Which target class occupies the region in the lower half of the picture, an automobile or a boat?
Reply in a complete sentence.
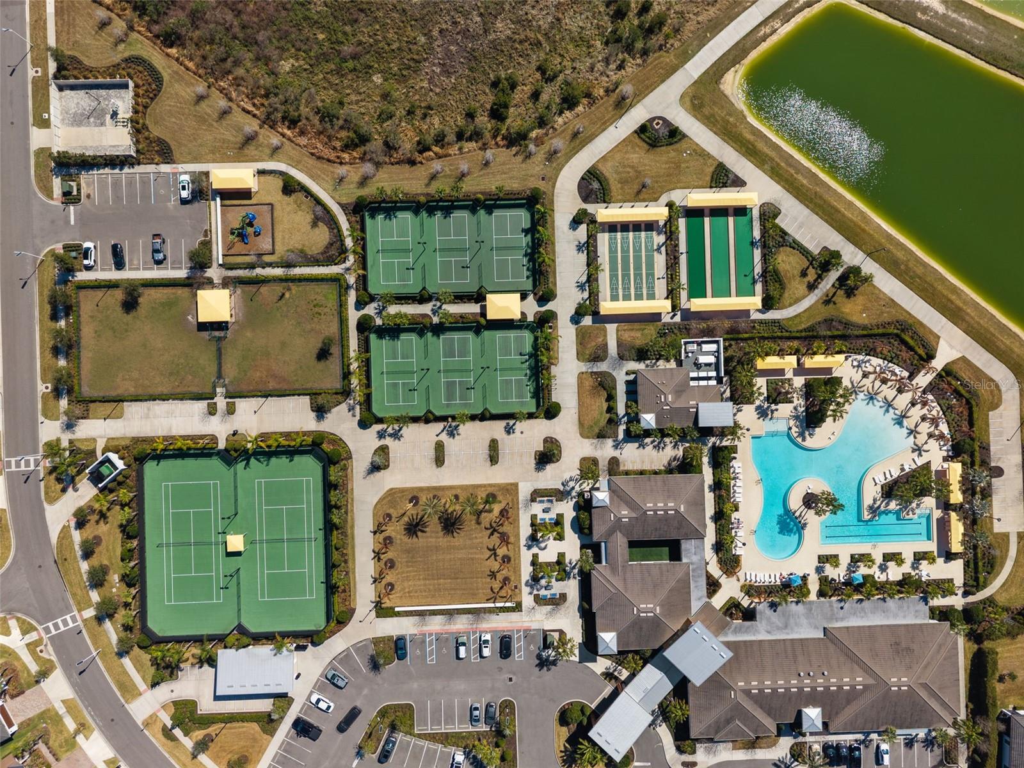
It is an automobile that can be seen in the lower half of the picture.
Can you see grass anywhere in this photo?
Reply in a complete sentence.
Yes, some grass is visible.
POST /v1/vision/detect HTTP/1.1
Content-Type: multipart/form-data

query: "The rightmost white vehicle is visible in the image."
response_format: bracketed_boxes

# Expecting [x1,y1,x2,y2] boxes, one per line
[877,741,891,766]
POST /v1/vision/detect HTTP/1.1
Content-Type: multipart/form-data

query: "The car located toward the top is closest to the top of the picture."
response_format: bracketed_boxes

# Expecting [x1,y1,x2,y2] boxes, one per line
[178,175,191,201]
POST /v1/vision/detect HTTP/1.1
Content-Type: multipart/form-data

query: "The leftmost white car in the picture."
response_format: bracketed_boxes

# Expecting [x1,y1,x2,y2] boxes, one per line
[83,243,96,268]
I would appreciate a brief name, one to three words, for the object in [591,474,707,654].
building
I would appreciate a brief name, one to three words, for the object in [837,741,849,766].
vehicle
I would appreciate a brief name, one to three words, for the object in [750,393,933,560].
swimming pool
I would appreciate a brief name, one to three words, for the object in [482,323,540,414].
sports court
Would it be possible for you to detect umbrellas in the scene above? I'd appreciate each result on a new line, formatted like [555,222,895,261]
[789,574,802,587]
[851,572,864,584]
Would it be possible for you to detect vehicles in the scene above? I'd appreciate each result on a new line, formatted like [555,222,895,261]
[485,701,496,726]
[151,234,165,264]
[111,243,125,269]
[178,175,191,201]
[470,702,481,727]
[456,635,467,659]
[480,632,491,658]
[837,741,849,766]
[824,740,837,766]
[83,243,96,268]
[325,667,349,690]
[849,742,862,768]
[337,706,361,733]
[809,740,820,757]
[310,693,335,713]
[292,717,322,741]
[378,736,397,763]
[395,635,407,661]
[500,633,511,659]
[877,741,891,766]
[453,747,466,768]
